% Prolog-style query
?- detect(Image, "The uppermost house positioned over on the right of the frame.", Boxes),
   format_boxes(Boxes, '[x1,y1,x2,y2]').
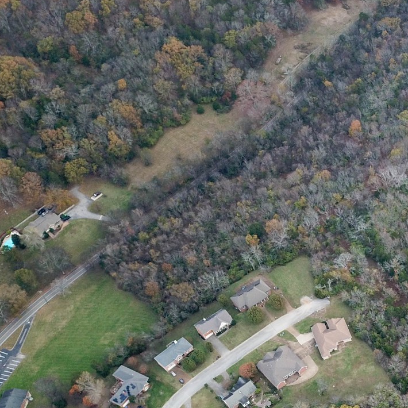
[231,279,270,311]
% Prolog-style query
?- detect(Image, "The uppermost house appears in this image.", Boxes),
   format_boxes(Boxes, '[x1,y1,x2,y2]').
[24,213,60,240]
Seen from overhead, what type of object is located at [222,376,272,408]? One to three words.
house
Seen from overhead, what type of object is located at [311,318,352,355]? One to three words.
house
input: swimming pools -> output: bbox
[0,231,21,253]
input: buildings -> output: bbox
[0,387,32,408]
[24,213,60,240]
[231,279,270,311]
[154,337,195,372]
[110,365,149,408]
[222,376,272,408]
[194,309,231,340]
[311,318,352,355]
[257,346,309,388]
